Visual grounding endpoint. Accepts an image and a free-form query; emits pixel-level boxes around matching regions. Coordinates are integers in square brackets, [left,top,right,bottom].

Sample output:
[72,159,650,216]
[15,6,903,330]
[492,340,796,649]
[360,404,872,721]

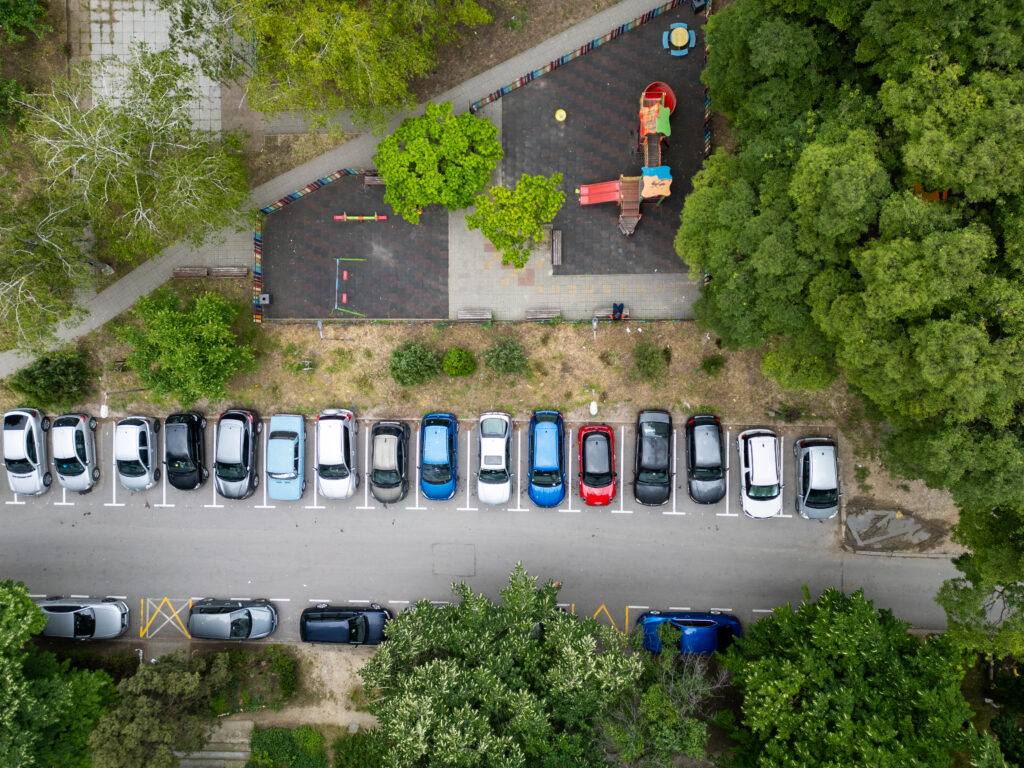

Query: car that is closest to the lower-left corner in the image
[37,597,130,644]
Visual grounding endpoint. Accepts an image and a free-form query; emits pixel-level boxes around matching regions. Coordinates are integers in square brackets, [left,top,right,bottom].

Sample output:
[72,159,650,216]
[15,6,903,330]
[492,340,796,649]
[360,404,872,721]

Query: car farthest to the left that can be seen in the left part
[1,408,52,495]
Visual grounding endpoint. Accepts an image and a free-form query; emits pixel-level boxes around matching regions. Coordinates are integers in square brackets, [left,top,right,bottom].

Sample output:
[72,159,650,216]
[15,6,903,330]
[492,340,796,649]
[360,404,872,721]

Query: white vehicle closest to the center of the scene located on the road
[473,412,515,505]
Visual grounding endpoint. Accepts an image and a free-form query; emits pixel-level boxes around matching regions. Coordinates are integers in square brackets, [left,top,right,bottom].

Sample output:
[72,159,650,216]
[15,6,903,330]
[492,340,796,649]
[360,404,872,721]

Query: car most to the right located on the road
[795,436,843,521]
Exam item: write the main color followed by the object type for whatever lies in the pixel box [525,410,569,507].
blue car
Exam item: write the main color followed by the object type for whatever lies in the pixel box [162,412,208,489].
black car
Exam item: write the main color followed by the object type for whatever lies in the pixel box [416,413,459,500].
blue car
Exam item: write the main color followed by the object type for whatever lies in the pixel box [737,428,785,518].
white car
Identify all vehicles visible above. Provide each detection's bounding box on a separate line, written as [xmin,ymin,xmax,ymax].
[473,412,515,505]
[416,413,459,500]
[795,436,843,521]
[632,409,677,507]
[367,421,410,503]
[1,408,52,495]
[185,599,278,645]
[575,424,620,507]
[263,414,306,500]
[162,412,208,489]
[313,409,359,499]
[685,414,731,504]
[299,603,394,650]
[525,410,569,507]
[113,416,160,491]
[37,597,130,644]
[212,409,262,499]
[637,608,742,656]
[737,428,785,518]
[50,413,99,491]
